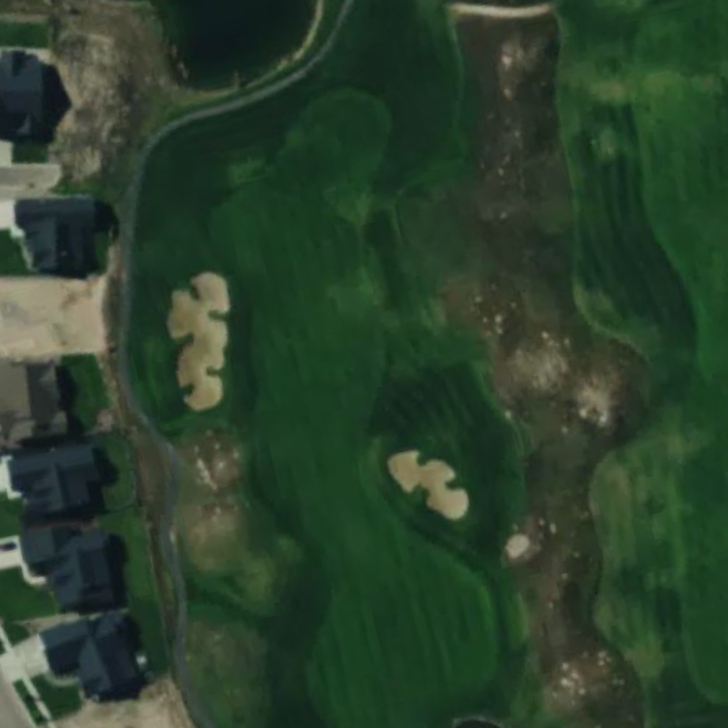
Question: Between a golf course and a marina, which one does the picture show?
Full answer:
This image shows a golf course.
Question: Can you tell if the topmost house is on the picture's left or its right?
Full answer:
It is on the left.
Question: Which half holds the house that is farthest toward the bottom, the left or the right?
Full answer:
It is on the left.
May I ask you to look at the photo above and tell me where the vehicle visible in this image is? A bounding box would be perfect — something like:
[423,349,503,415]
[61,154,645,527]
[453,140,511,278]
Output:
[0,539,19,552]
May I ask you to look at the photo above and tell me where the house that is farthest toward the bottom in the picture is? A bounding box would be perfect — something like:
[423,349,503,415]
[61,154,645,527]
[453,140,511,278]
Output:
[33,607,145,700]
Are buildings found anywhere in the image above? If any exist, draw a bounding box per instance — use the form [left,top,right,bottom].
[7,439,103,521]
[0,357,69,443]
[0,49,47,140]
[12,194,97,274]
[33,607,145,700]
[19,524,118,611]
